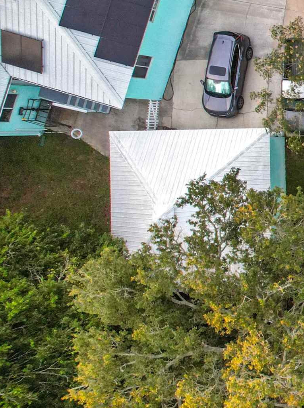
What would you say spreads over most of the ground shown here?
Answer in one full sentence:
The largest share of the image is taken up by trees.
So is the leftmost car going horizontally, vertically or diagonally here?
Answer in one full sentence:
The leftmost car runs vertically in the image.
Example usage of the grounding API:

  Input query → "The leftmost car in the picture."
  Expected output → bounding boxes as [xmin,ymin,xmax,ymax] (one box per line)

[203,33,253,123]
